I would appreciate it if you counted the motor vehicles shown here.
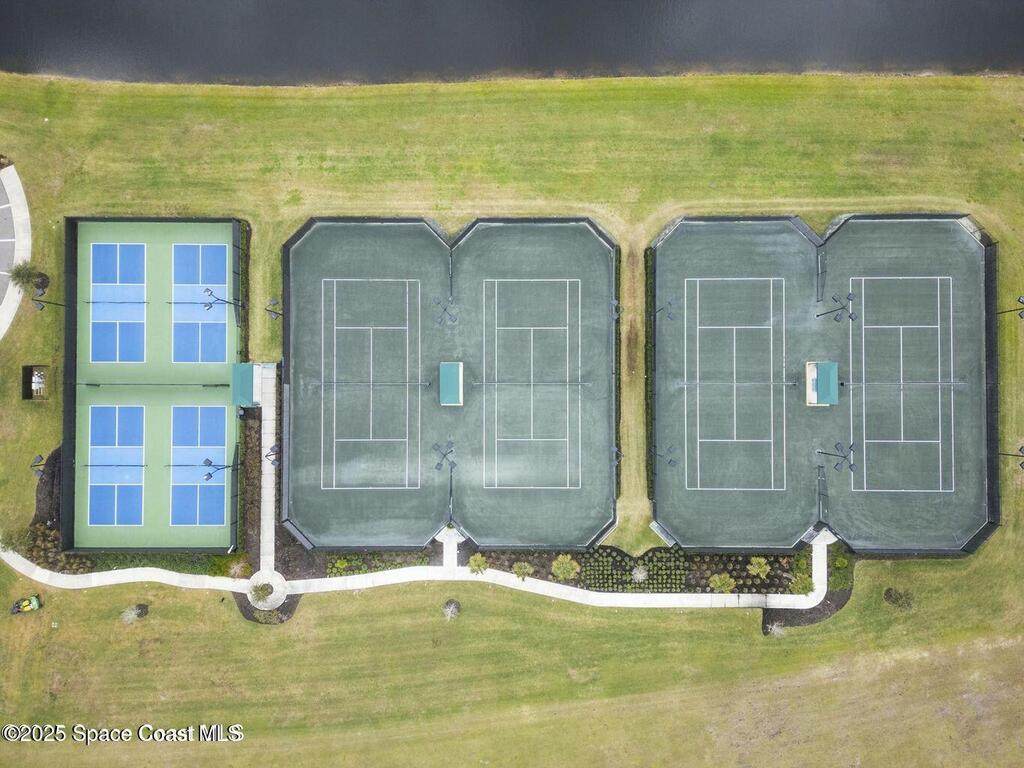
one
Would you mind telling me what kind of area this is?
sports ground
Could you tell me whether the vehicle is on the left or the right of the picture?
left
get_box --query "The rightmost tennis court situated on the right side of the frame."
[818,219,989,549]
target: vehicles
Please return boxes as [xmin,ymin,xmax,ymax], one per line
[9,594,40,615]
